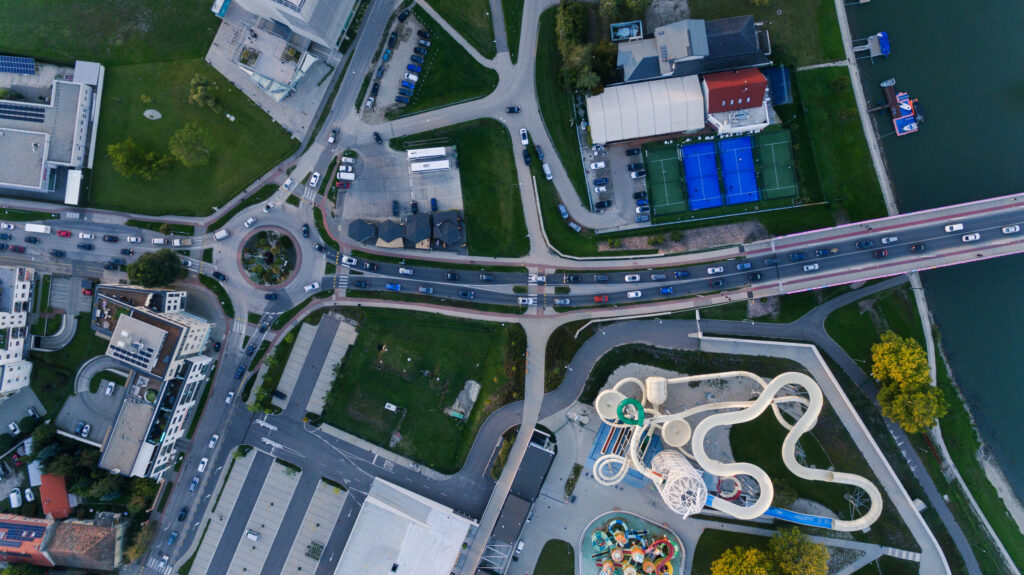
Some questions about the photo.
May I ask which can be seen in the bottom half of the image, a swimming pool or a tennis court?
swimming pool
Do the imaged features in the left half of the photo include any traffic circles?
Yes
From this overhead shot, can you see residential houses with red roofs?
Yes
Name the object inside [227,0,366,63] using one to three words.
building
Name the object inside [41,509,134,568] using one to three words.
house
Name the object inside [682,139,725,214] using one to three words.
tennis court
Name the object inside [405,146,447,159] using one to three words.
vehicle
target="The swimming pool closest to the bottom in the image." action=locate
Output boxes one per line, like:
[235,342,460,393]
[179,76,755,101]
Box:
[579,510,685,575]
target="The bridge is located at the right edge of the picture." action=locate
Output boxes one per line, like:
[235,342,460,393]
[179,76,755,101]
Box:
[772,194,1024,295]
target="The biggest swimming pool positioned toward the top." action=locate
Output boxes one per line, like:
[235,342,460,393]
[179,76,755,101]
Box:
[610,20,643,42]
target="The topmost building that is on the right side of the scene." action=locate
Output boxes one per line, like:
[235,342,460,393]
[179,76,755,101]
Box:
[617,15,772,84]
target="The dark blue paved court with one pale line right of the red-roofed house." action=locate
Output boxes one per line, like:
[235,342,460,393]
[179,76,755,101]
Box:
[767,66,793,105]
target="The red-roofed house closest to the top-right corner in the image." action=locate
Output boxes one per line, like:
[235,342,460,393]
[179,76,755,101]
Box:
[700,68,769,135]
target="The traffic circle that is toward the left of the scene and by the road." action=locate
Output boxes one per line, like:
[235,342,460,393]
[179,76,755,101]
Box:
[236,225,302,290]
